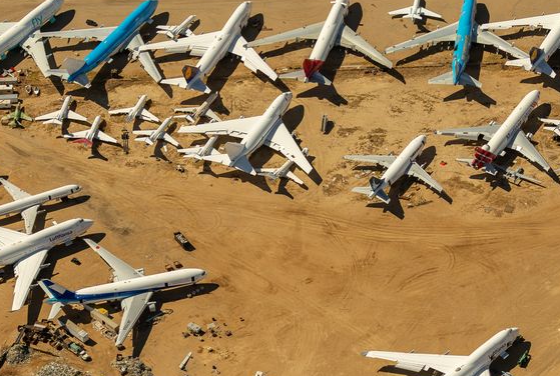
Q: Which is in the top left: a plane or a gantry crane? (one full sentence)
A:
Visible in the top left is a plane.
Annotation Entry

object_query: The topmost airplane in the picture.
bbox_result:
[388,0,440,20]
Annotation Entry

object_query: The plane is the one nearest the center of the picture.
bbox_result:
[257,160,307,188]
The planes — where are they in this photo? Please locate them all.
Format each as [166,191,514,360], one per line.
[176,136,218,163]
[495,165,547,189]
[432,92,552,177]
[26,1,162,91]
[388,0,440,20]
[1,101,32,129]
[0,219,94,312]
[0,0,64,77]
[357,329,520,376]
[152,16,195,37]
[34,98,89,125]
[136,3,279,96]
[177,95,314,178]
[381,0,532,87]
[64,118,118,145]
[257,160,307,188]
[342,136,441,203]
[36,238,206,345]
[0,178,79,235]
[132,118,183,146]
[174,95,224,123]
[478,13,560,78]
[244,0,393,87]
[108,96,160,122]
